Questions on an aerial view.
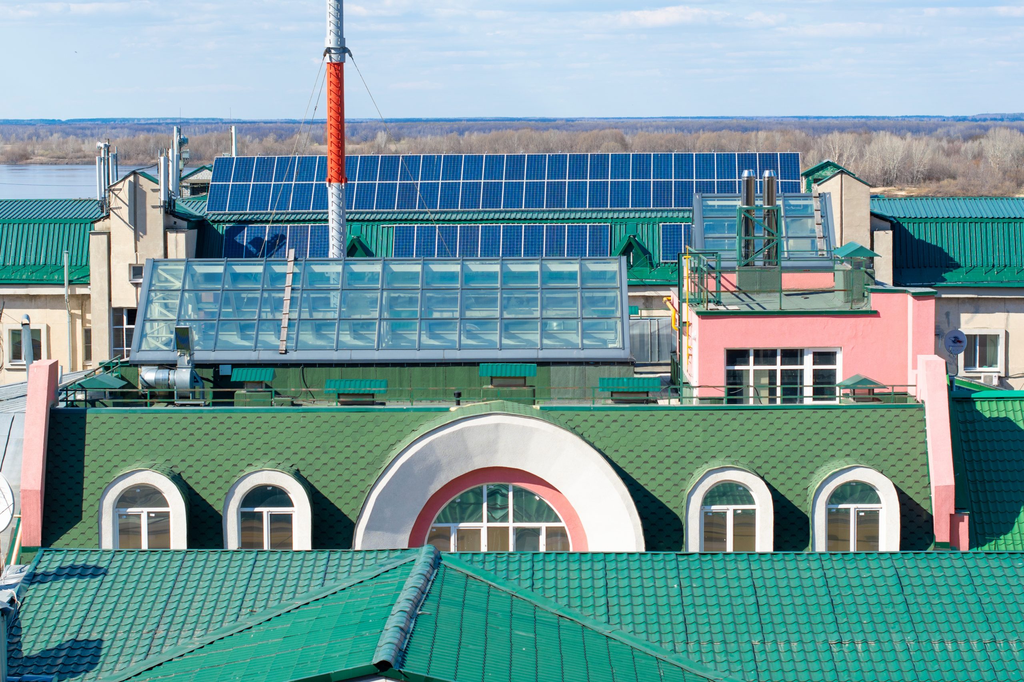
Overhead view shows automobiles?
No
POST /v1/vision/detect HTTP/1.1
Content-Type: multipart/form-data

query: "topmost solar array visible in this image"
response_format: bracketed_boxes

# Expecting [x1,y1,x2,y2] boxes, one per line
[208,152,800,212]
